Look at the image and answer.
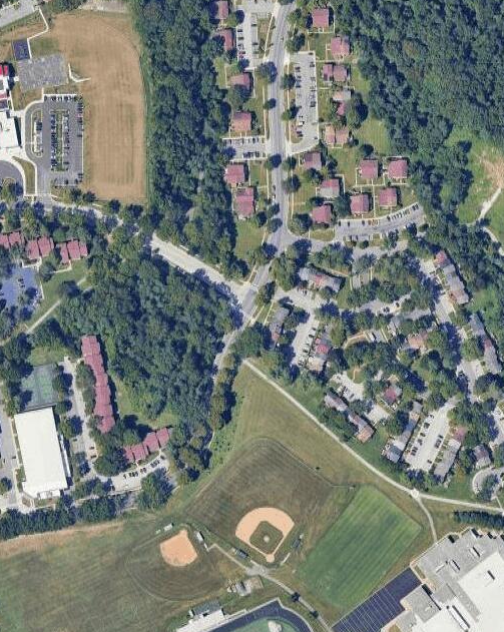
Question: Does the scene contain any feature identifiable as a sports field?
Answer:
Yes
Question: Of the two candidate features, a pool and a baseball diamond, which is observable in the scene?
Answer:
baseball diamond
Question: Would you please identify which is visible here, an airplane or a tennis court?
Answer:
tennis court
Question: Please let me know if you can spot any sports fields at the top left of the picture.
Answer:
No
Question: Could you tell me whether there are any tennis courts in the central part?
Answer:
No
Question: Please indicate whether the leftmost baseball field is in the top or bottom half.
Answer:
bottom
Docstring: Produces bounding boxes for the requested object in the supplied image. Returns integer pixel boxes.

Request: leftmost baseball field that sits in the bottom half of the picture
[160,529,197,567]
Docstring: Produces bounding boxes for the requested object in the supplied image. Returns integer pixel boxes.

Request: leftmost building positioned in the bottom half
[15,407,71,500]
